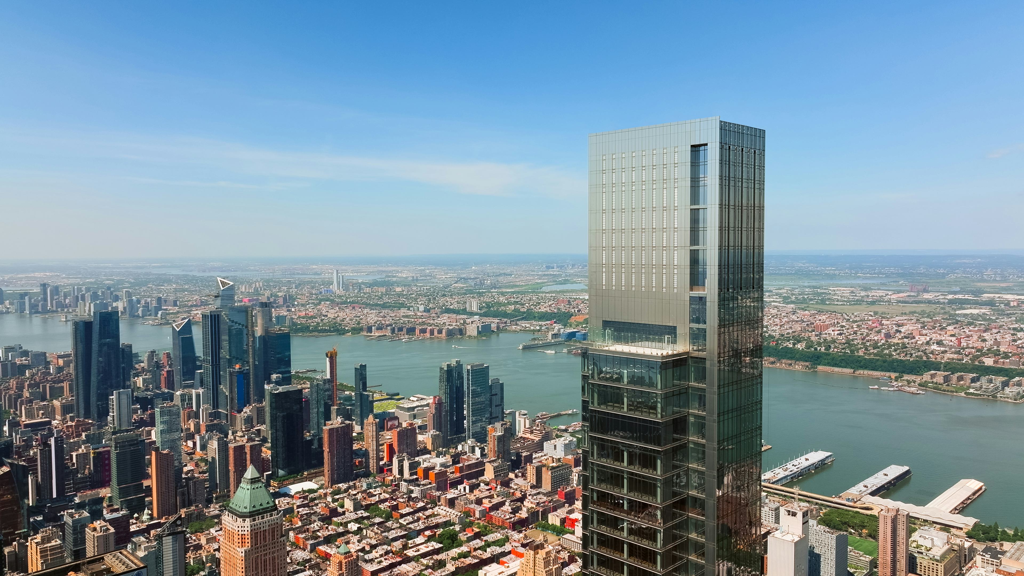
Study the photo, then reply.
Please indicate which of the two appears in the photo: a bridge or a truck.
bridge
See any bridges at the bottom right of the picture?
Yes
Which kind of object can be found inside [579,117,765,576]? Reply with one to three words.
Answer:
building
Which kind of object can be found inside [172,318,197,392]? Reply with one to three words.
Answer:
building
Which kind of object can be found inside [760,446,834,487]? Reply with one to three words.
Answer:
pier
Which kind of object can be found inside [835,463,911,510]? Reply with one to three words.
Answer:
pier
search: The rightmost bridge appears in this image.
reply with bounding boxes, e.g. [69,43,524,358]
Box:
[760,481,883,516]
